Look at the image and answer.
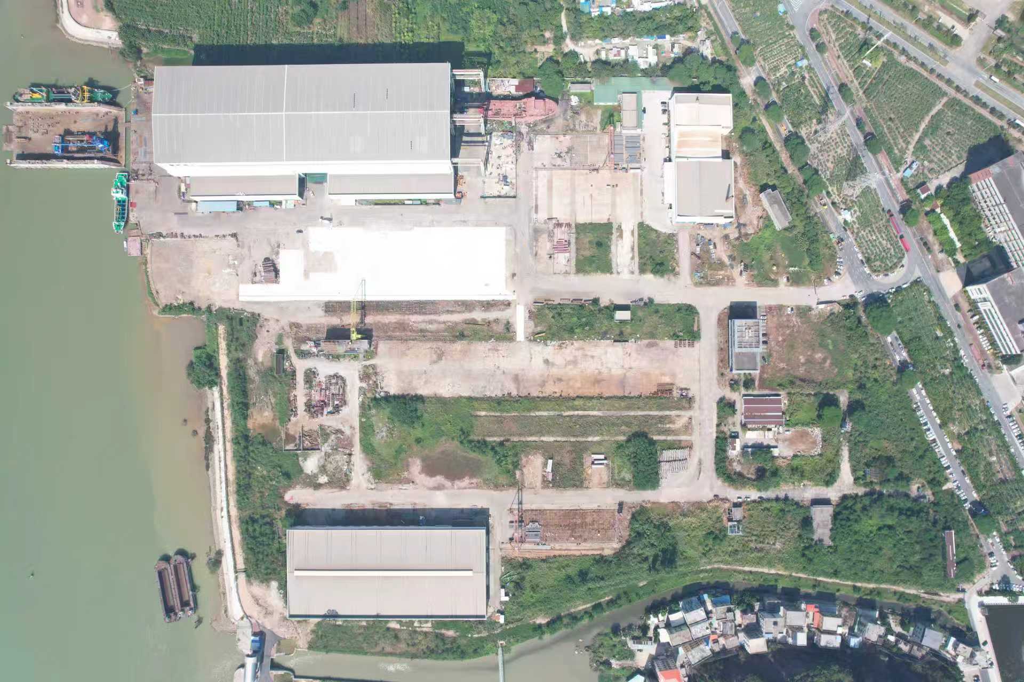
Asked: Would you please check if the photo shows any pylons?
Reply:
Yes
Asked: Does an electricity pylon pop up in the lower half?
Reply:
No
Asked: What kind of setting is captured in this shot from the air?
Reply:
port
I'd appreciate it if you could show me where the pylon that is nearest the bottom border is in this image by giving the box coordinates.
[839,173,883,201]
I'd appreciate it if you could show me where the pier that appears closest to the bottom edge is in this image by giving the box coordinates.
[128,213,142,256]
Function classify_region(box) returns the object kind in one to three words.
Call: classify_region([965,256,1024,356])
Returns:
building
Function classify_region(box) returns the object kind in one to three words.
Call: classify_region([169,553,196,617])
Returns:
ship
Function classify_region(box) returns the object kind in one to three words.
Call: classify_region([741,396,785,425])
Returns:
shed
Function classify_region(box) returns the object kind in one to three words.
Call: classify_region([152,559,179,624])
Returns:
ship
